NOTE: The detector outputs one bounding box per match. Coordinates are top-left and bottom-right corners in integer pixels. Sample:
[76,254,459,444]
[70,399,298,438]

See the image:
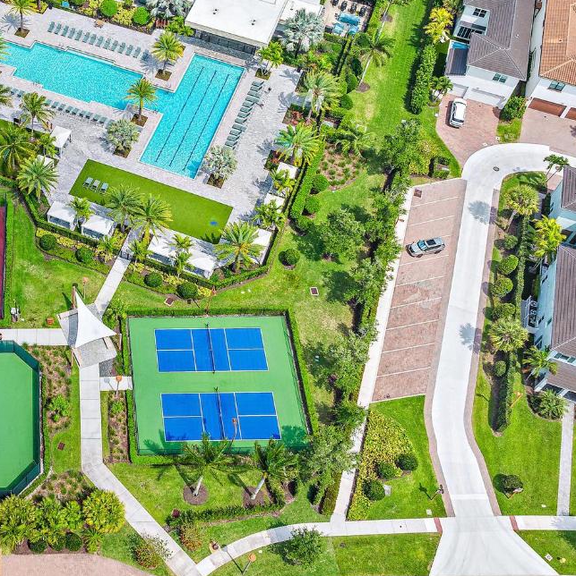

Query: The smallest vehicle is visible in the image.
[449,99,468,125]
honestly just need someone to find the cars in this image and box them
[449,99,468,125]
[406,235,446,257]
